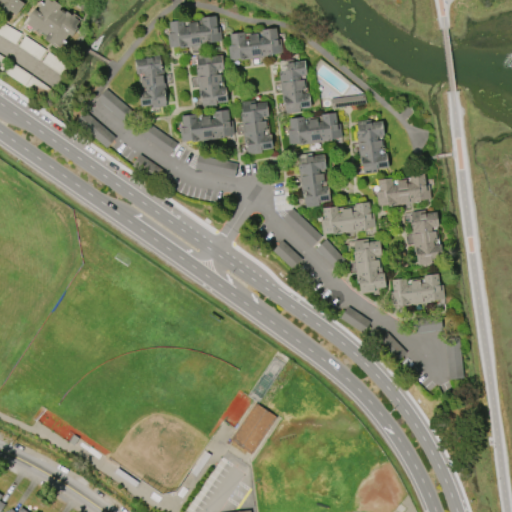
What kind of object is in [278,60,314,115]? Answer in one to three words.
building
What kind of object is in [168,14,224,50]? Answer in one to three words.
building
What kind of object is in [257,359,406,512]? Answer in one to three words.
baseball field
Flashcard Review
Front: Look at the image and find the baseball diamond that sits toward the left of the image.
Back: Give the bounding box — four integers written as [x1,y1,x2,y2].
[2,212,284,492]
